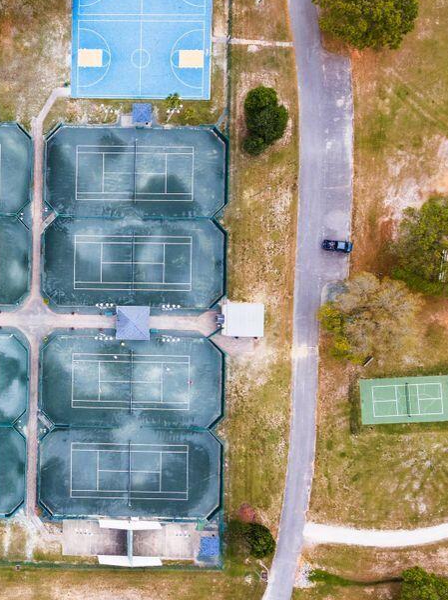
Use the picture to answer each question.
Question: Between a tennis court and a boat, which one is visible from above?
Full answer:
Visible in the photo is a tennis court.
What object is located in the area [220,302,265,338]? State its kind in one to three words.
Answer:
shed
